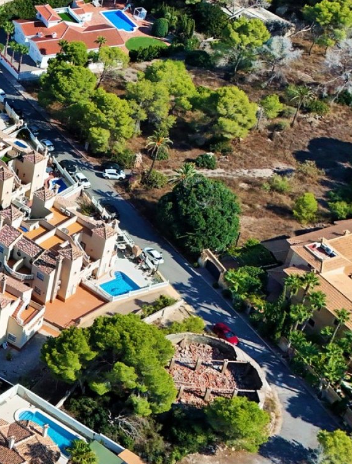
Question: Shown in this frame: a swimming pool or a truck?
swimming pool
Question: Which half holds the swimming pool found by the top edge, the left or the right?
left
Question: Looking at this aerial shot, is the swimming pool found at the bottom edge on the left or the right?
left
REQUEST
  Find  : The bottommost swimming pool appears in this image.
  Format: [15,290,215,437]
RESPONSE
[16,407,76,458]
